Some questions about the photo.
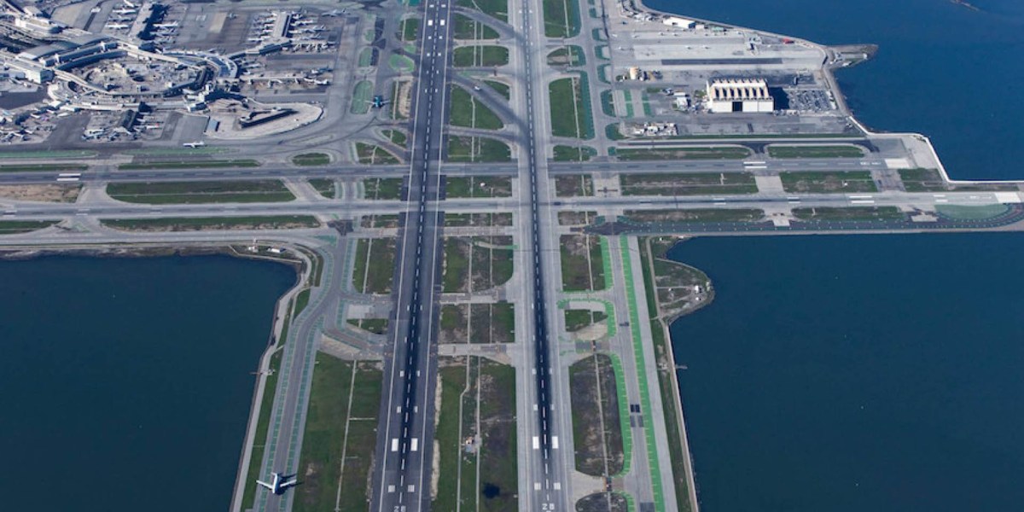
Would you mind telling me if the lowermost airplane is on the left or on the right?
left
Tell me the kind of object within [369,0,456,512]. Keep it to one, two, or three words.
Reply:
runway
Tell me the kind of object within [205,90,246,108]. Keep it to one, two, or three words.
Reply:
building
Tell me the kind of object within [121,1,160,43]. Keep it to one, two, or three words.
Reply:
building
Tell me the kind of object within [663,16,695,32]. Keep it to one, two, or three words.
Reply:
shed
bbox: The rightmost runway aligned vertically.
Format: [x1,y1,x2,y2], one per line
[507,0,579,512]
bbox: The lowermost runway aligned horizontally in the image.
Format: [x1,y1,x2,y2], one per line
[0,189,1024,220]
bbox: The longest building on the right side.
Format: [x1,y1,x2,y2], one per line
[701,79,774,112]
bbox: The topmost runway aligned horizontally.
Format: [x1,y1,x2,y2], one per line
[0,156,913,182]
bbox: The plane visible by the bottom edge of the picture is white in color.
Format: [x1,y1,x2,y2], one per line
[255,471,295,493]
